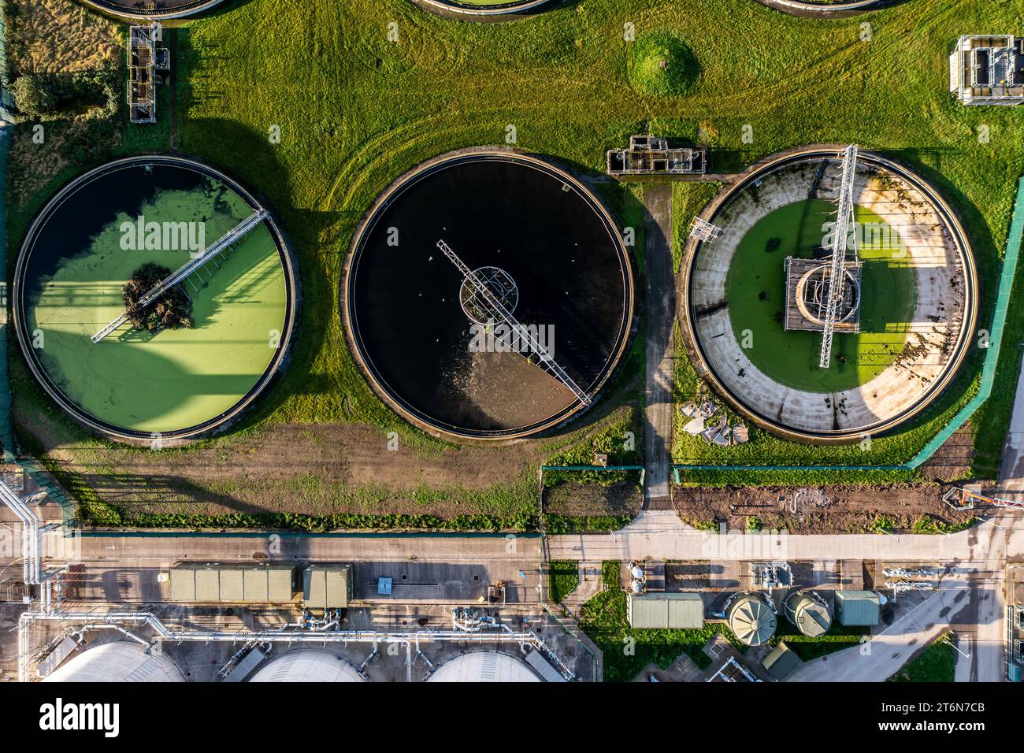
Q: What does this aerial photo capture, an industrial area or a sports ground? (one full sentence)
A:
The area seen from above is an industrial area.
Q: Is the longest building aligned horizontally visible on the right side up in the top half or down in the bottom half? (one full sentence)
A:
You can find the longest building aligned horizontally visible on the right side in the bottom half.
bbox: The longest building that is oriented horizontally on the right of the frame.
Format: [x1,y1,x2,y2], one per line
[626,591,703,628]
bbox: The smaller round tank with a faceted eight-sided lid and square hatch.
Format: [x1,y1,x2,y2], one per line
[781,587,831,636]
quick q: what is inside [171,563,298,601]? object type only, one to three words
building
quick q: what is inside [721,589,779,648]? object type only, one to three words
storage tank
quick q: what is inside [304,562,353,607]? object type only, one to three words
building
